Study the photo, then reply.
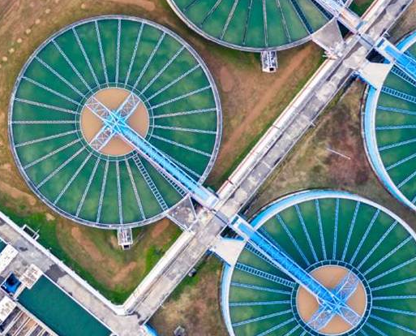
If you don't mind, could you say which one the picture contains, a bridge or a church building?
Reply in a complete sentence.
I can see a bridge in this picture.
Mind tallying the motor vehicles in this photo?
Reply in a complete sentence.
No motor vehicles are visible.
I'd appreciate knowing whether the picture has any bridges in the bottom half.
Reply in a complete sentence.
Yes, a bridge is visible in the bottom half.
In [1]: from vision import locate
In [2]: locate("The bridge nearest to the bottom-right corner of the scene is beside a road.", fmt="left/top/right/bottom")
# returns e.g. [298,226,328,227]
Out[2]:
[227,214,353,319]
